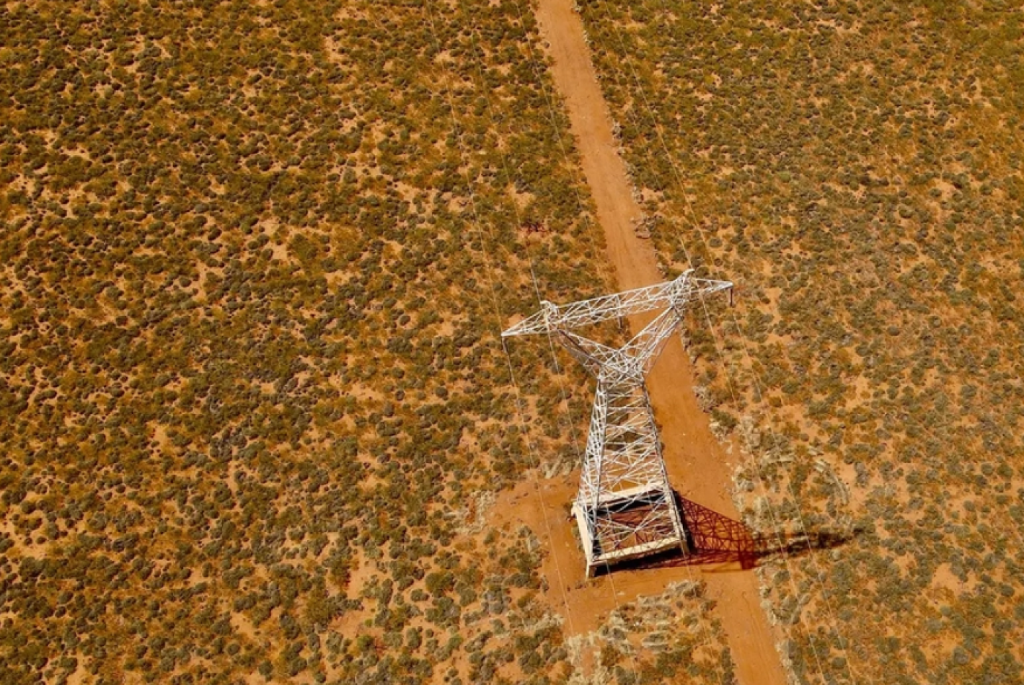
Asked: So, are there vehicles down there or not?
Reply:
No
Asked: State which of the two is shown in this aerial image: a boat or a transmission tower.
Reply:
transmission tower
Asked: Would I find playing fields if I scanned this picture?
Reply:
No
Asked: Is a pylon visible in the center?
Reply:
Yes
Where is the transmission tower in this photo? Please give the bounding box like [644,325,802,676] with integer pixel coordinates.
[501,268,735,563]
